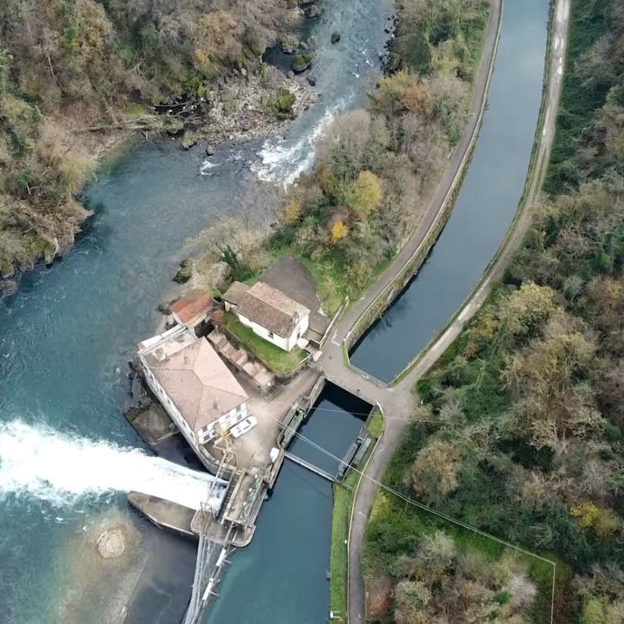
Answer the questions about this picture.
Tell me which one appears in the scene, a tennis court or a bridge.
bridge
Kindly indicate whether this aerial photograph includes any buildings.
Yes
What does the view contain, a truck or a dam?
dam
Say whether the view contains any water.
Yes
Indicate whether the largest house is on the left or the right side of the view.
left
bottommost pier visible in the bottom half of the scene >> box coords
[128,490,199,539]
